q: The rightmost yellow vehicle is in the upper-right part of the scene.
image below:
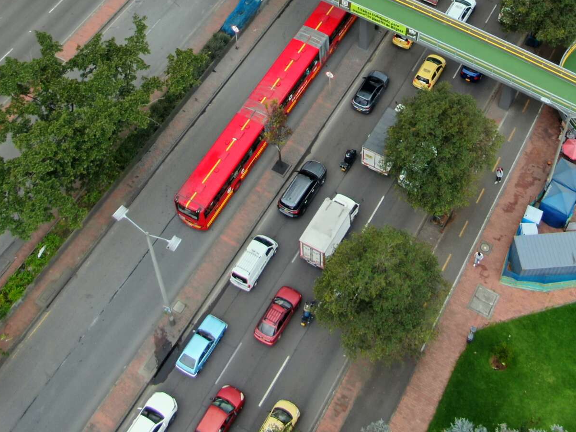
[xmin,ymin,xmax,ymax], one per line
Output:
[411,53,447,96]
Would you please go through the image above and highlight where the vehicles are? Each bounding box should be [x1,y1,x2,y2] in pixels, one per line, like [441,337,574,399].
[175,316,226,382]
[278,162,326,220]
[296,300,315,327]
[190,383,243,432]
[295,191,363,279]
[348,71,390,120]
[256,395,299,432]
[353,102,412,185]
[411,53,447,96]
[251,285,302,351]
[128,391,177,432]
[461,66,484,84]
[390,35,413,50]
[177,2,352,233]
[442,0,477,30]
[229,233,278,296]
